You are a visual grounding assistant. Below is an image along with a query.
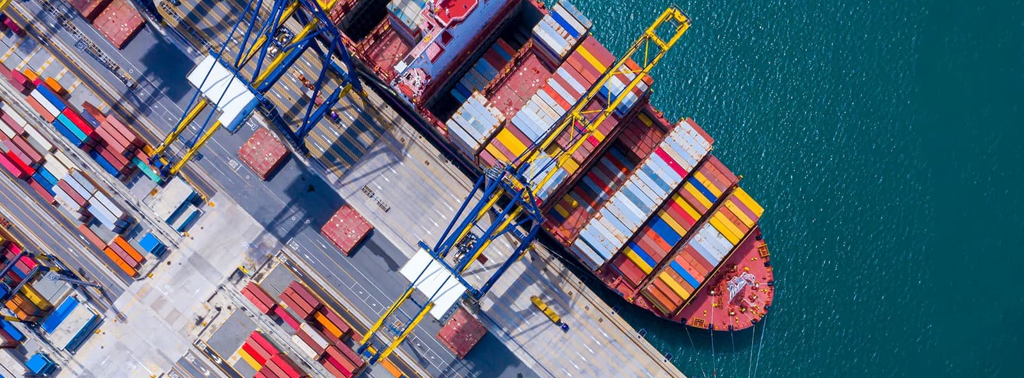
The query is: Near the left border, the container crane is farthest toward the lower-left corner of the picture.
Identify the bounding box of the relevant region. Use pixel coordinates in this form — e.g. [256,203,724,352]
[0,250,71,332]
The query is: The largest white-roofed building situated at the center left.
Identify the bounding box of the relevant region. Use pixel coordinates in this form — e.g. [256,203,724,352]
[148,177,200,234]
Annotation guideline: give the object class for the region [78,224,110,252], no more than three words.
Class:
shipping container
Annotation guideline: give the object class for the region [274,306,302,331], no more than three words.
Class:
shipping container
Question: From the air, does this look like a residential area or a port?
port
